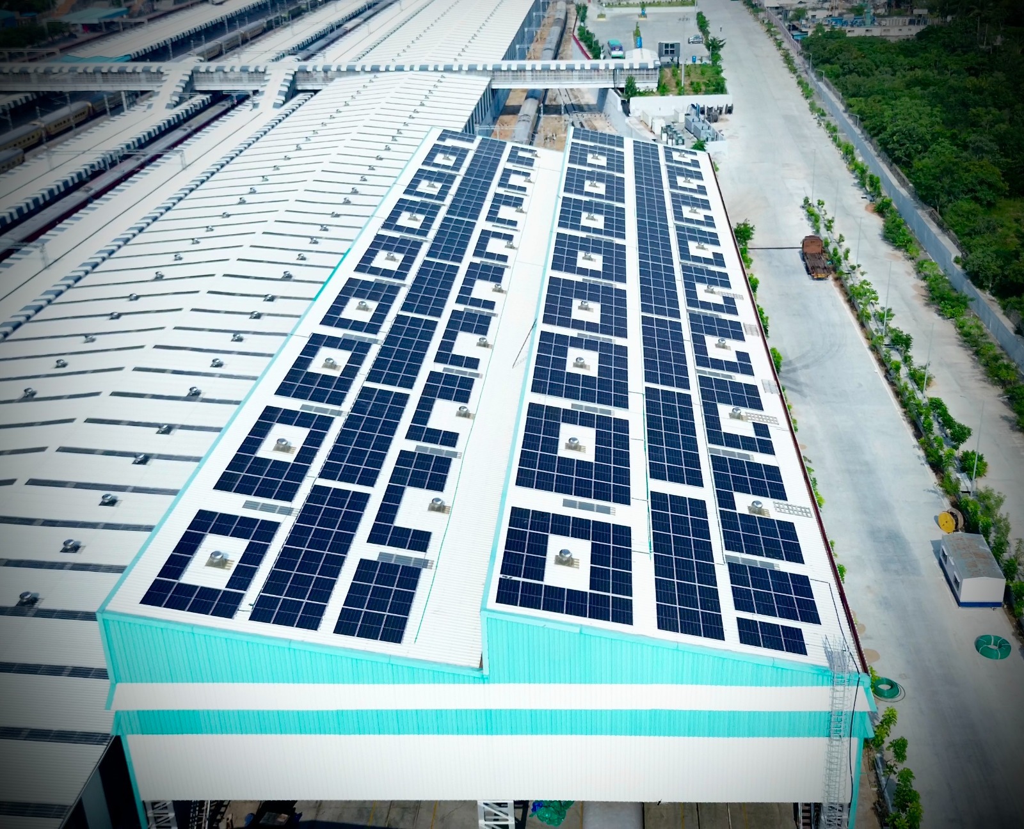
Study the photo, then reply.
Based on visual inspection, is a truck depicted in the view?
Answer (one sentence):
Yes, the picture does show a truck.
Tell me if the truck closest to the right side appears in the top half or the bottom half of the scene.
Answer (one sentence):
Seen from above, the truck closest to the right side lies in the top half of the view.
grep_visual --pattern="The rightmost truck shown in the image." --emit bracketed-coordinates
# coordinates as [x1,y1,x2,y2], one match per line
[797,237,832,277]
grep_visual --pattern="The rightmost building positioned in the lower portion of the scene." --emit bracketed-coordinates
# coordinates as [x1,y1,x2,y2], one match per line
[938,531,1010,608]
